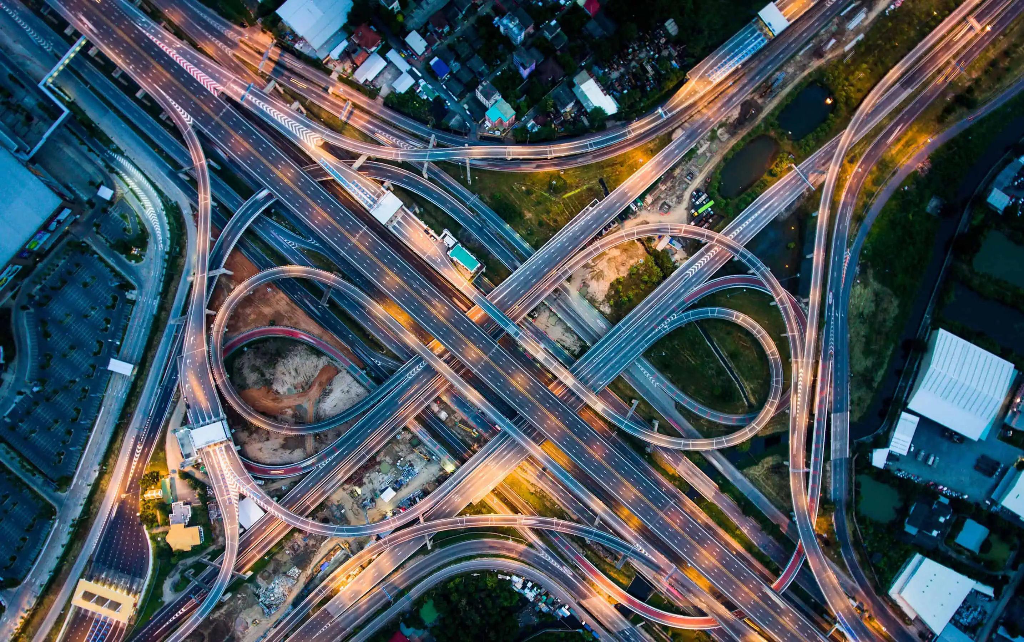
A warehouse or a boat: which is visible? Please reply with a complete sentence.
It is a warehouse that can be seen here.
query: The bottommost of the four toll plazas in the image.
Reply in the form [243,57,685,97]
[66,566,141,642]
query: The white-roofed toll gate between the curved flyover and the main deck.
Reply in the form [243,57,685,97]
[370,186,412,233]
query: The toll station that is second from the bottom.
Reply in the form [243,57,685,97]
[190,421,231,460]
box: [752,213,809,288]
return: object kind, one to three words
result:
pond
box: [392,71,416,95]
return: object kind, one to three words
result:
building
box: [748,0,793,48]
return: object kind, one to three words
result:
toll station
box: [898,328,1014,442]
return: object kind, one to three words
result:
warehouse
